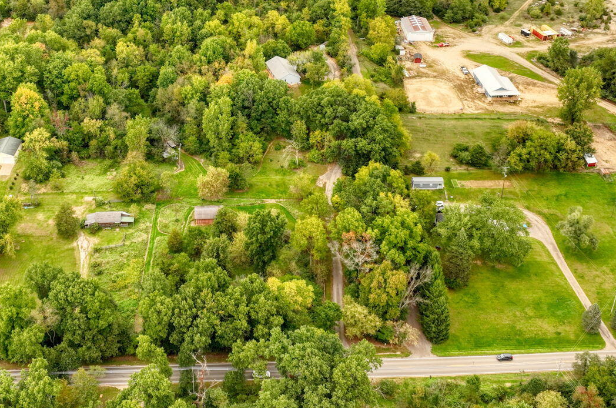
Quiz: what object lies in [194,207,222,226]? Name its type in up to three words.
shed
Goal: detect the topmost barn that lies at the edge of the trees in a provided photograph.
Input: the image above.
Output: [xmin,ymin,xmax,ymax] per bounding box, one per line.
[399,12,435,41]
